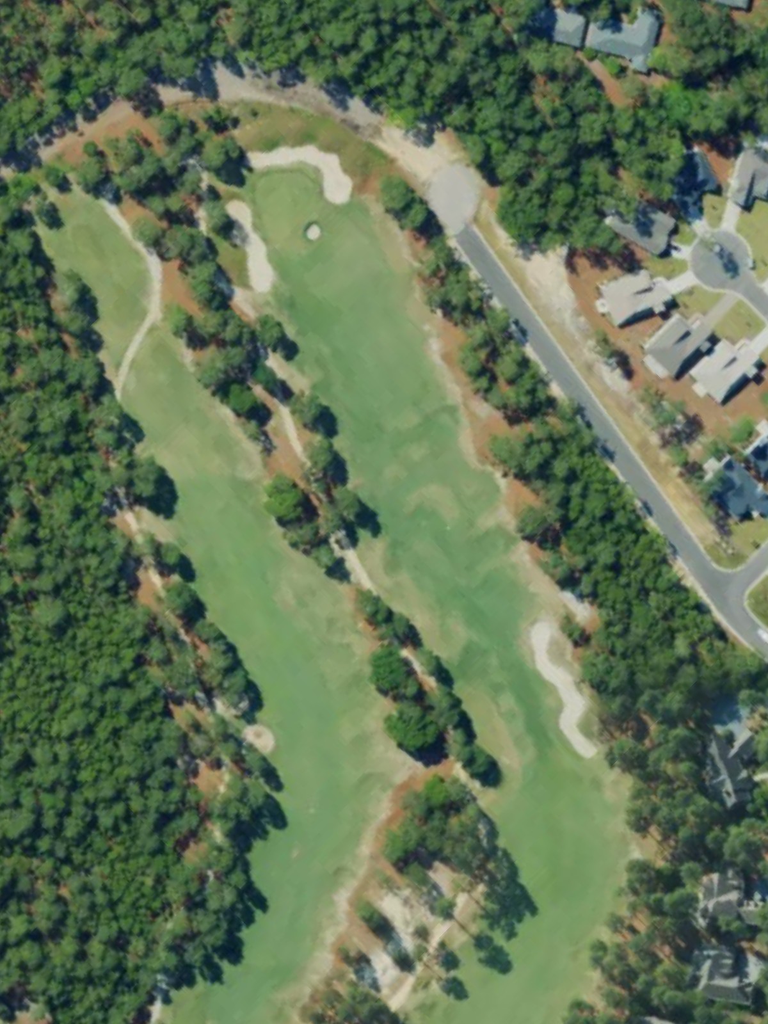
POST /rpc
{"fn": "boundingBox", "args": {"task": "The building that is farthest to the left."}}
[553,7,585,45]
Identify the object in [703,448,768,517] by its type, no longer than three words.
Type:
house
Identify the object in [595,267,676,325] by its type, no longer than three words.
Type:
house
